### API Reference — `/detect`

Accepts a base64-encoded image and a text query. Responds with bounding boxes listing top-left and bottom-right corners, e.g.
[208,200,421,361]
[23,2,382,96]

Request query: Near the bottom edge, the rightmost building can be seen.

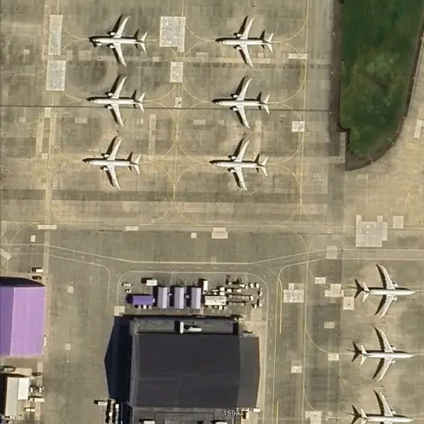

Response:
[127,319,258,424]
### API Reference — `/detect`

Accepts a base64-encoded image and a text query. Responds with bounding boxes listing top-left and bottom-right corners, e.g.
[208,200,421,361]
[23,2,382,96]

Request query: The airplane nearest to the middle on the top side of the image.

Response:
[212,139,267,190]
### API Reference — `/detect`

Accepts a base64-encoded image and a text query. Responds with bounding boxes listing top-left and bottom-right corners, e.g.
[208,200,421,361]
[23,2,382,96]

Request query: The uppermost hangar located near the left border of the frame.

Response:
[0,285,44,357]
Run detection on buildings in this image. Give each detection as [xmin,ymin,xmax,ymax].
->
[173,287,187,309]
[0,285,44,357]
[132,296,154,306]
[127,319,258,424]
[157,287,171,309]
[190,287,204,309]
[0,374,39,416]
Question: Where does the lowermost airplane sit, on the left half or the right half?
right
